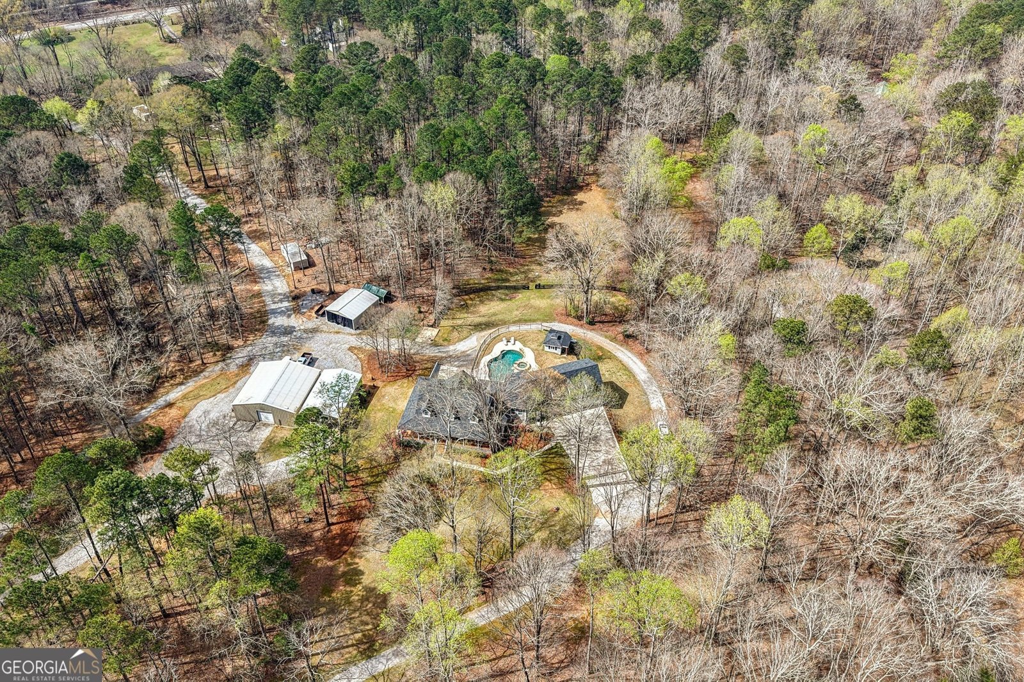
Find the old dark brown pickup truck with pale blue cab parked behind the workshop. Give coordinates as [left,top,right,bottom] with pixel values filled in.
[298,348,318,366]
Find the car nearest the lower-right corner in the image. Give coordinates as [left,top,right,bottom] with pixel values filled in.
[656,419,672,439]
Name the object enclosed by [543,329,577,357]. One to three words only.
building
